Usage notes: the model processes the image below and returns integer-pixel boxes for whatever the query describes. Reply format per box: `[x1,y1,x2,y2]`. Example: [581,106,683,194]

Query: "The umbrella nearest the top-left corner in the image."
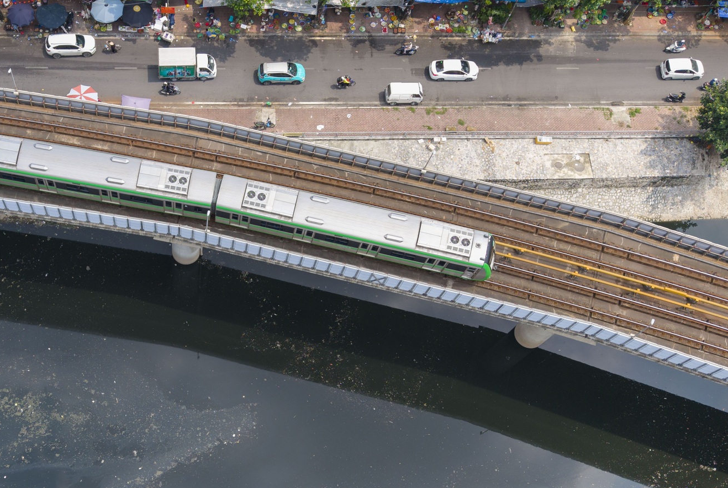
[7,4,35,32]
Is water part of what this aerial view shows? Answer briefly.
Yes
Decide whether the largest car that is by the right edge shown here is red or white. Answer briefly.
white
